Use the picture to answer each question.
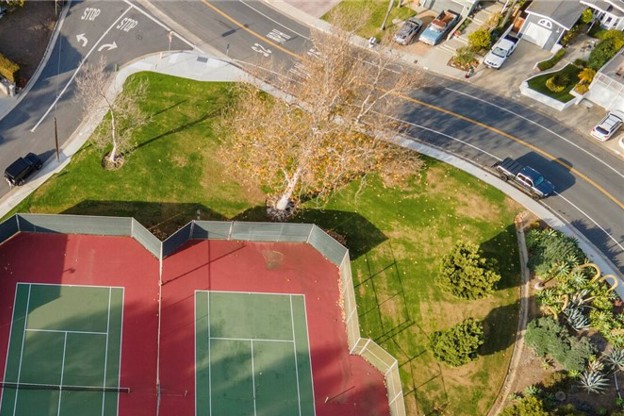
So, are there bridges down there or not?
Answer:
No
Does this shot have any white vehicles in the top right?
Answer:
Yes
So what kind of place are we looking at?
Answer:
sports ground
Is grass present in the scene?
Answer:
Yes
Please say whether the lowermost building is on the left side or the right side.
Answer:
right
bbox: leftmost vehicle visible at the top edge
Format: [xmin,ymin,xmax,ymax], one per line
[394,16,423,43]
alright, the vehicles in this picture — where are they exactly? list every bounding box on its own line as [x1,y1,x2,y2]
[485,30,524,68]
[394,16,423,43]
[422,4,461,43]
[592,109,624,142]
[5,155,41,185]
[498,155,560,199]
